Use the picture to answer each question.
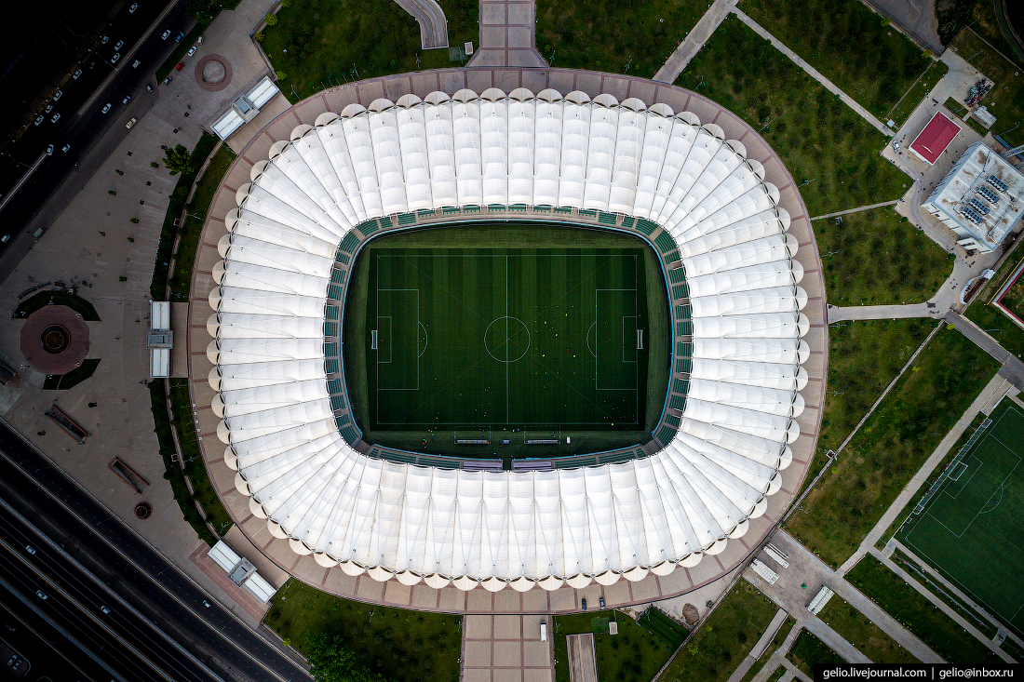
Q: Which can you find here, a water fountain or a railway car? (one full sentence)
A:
It is a water fountain that can be seen here.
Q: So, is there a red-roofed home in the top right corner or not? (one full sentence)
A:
Yes, looking in the top right corner, one can make out a red-roofed home.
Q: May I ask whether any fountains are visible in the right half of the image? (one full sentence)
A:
No, looking in the right half of the image, there is no fountain.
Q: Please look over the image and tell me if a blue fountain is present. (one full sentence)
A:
No, no blue fountain is visible in the view.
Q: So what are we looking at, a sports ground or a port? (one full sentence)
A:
The picture captures a sports ground.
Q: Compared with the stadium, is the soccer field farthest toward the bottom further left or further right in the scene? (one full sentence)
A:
Looking at the photo, the soccer field farthest toward the bottom lies to the right of the stadium.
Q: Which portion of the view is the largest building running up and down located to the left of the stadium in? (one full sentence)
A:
The largest building running up and down located to the left of the stadium is located in the left region of the scene.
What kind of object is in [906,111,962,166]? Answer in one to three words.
house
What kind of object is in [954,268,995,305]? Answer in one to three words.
building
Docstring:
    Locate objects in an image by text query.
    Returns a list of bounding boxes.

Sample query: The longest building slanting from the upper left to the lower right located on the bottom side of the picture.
[208,538,279,604]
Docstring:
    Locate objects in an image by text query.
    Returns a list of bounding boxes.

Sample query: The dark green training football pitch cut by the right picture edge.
[896,395,1024,640]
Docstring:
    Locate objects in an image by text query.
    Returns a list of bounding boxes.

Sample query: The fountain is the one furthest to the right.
[195,53,232,91]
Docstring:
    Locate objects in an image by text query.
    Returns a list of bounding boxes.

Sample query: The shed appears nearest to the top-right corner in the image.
[971,107,996,130]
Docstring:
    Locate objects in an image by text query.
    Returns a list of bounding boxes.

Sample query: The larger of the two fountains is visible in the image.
[21,306,88,374]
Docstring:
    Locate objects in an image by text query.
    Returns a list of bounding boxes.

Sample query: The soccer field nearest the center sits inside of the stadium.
[348,226,666,457]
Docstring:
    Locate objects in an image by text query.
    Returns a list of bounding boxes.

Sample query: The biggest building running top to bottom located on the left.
[146,301,181,378]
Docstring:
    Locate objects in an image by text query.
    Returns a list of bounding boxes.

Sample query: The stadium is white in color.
[206,87,809,591]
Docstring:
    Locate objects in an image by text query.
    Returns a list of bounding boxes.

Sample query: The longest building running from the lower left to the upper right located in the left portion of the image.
[210,76,282,142]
